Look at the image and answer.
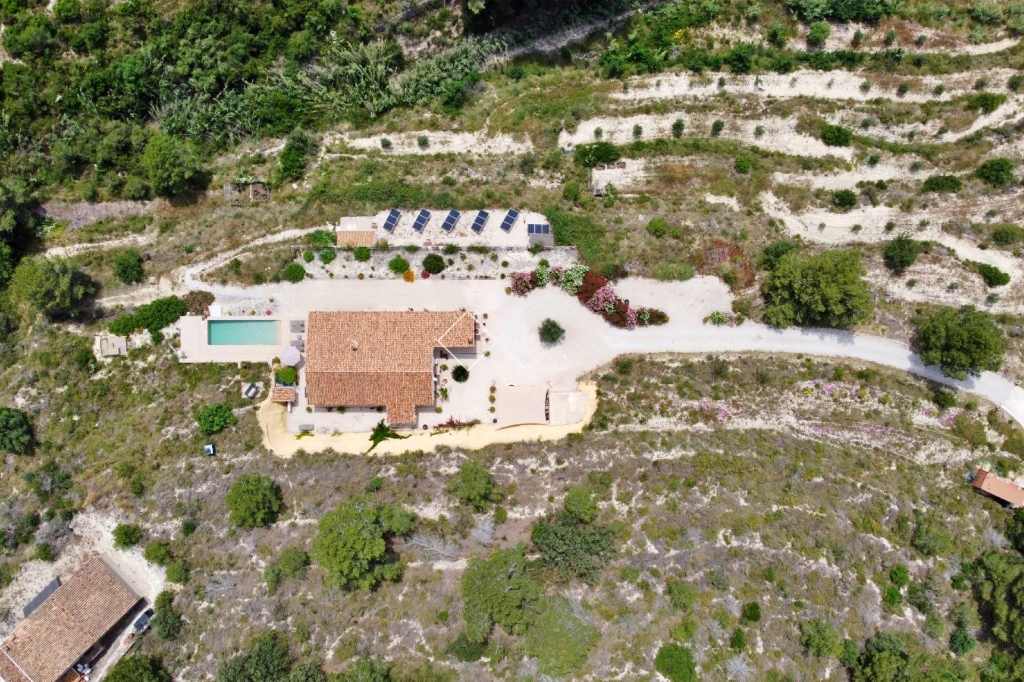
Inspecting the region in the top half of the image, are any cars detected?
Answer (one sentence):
No, the scene shows no car in the top half of the image.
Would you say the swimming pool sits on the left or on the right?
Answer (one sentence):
The swimming pool sits on the left side.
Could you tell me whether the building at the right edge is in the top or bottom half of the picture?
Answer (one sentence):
You can find the building at the right edge in the bottom half.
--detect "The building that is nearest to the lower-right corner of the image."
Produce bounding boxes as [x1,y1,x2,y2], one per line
[967,469,1024,508]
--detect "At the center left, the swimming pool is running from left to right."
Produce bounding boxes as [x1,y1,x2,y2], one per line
[205,317,283,347]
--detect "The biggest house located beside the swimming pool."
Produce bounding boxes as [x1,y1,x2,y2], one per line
[305,311,476,424]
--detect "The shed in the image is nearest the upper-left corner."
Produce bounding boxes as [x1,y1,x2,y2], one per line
[336,216,379,246]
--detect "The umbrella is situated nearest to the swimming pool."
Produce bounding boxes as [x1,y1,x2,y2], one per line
[282,344,301,363]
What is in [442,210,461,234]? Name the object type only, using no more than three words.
solar array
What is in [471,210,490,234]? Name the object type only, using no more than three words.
solar array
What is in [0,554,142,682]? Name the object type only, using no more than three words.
house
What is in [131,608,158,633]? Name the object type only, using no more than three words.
car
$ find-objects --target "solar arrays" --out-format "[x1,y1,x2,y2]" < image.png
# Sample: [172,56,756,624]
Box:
[471,210,490,234]
[413,210,432,234]
[442,210,461,234]
[500,210,519,233]
[528,224,549,234]
[383,210,402,233]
